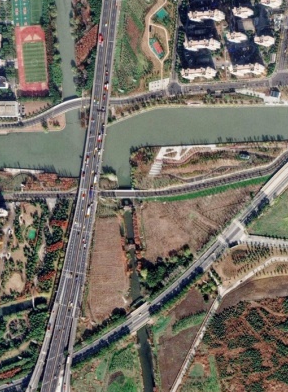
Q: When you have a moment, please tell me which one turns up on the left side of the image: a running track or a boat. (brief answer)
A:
running track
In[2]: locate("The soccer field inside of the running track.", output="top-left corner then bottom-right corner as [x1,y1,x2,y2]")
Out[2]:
[23,40,46,83]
